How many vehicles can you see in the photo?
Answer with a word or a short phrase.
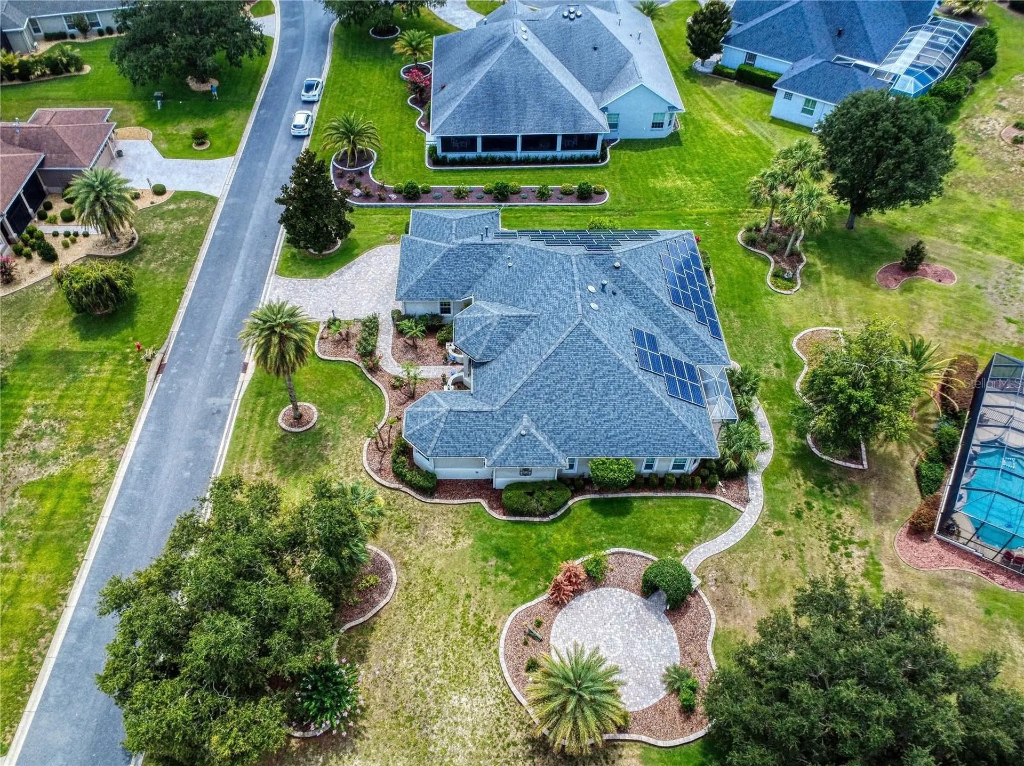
2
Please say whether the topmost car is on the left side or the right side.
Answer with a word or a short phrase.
left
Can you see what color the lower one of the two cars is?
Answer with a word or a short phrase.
white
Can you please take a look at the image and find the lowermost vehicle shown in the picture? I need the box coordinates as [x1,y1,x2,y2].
[289,109,313,136]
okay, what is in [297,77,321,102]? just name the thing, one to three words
car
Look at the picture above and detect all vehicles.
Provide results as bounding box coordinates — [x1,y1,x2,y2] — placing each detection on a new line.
[297,77,321,102]
[289,109,313,136]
